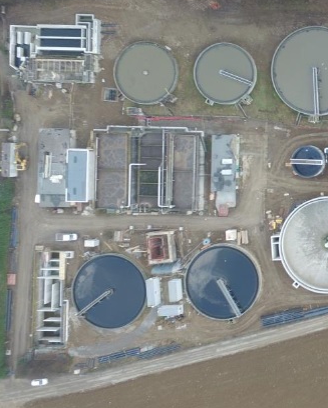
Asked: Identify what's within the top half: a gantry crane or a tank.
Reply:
tank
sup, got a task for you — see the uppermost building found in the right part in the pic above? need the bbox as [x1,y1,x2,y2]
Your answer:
[211,136,241,208]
